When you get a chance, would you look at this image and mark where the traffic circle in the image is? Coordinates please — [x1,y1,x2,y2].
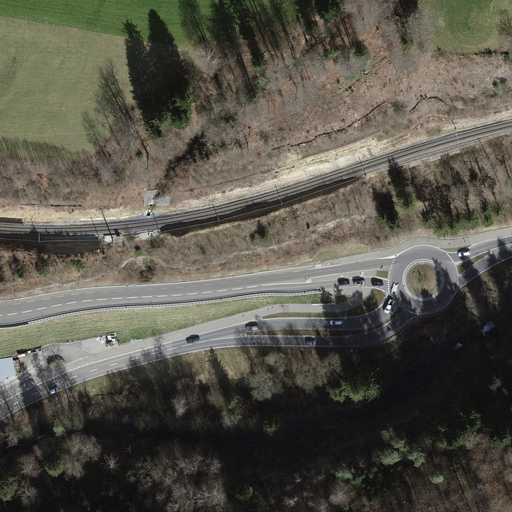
[388,246,458,315]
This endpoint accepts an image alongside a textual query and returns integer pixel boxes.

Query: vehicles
[392,282,398,294]
[186,336,200,342]
[305,338,316,344]
[246,324,258,330]
[338,280,350,286]
[458,250,470,256]
[372,281,384,287]
[107,332,114,347]
[330,320,343,325]
[352,280,365,286]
